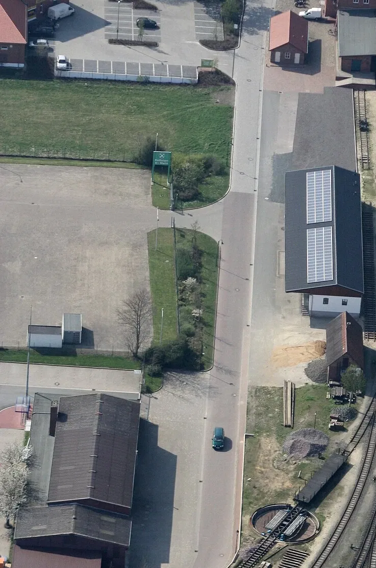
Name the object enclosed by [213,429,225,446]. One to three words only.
vehicle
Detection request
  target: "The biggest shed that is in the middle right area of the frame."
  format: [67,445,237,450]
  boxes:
[284,165,365,313]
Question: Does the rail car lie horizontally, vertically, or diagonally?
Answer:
diagonally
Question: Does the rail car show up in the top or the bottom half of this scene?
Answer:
bottom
